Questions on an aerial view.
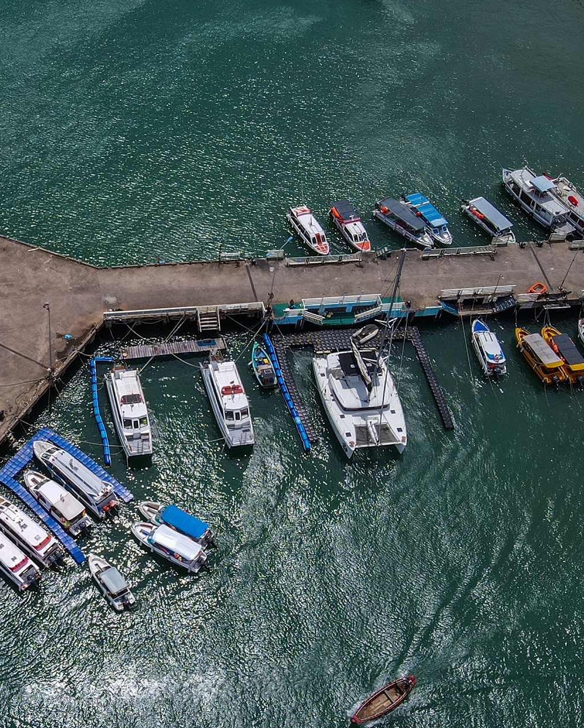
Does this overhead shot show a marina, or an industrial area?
marina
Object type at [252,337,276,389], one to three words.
boat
